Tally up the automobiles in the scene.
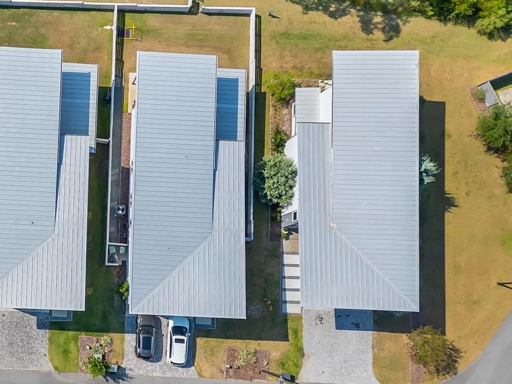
2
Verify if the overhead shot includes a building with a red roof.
No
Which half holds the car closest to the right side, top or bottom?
bottom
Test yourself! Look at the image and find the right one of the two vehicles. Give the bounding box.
[164,317,190,366]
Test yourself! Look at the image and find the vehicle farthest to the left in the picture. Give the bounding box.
[132,316,157,362]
